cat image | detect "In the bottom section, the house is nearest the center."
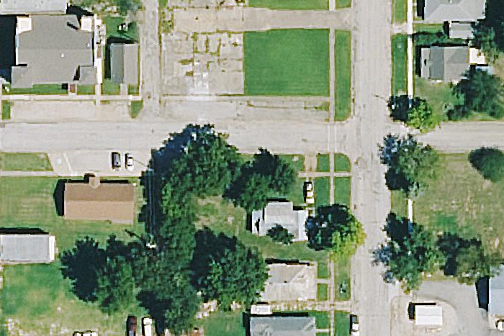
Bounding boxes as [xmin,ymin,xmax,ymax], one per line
[253,201,308,239]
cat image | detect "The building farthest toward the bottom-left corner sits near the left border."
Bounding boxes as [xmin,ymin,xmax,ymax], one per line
[0,234,55,262]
